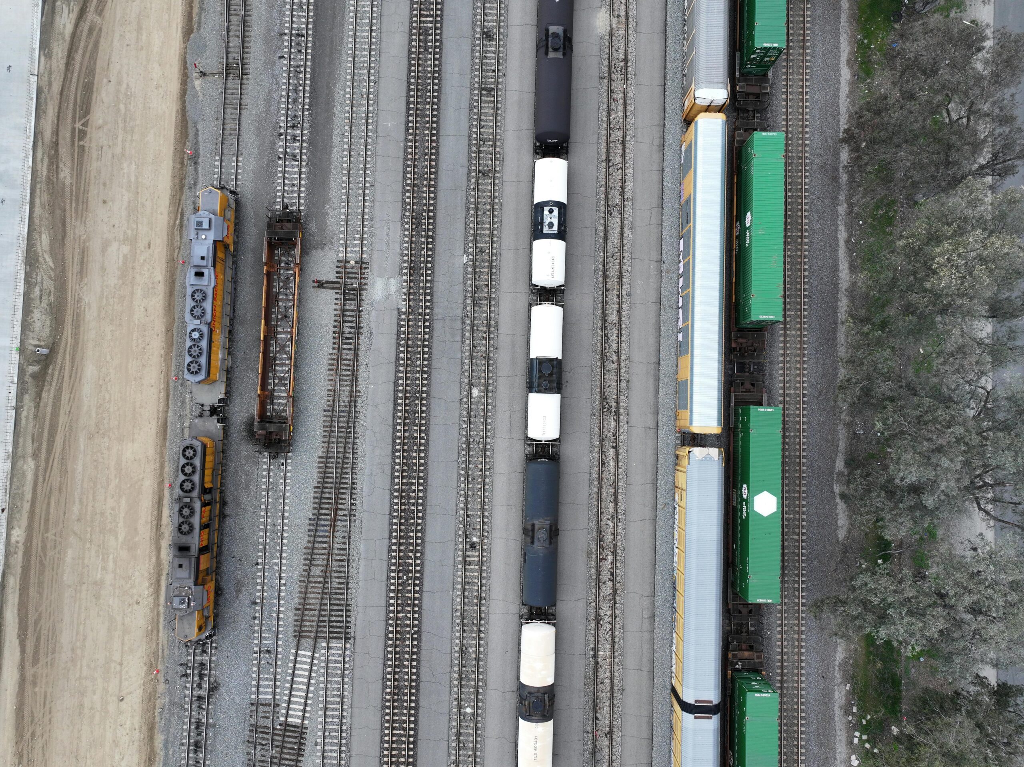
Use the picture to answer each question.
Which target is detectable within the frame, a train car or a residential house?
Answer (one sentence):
I can see a train car in this picture.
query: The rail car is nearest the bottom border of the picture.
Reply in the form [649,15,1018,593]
[517,608,557,767]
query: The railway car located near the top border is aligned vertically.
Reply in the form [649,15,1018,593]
[534,0,573,158]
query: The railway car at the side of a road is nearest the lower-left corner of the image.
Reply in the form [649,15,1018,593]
[165,412,229,648]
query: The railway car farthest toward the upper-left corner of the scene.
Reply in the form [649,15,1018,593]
[183,183,241,410]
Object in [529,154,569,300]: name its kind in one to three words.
rail car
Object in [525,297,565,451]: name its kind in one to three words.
rail car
